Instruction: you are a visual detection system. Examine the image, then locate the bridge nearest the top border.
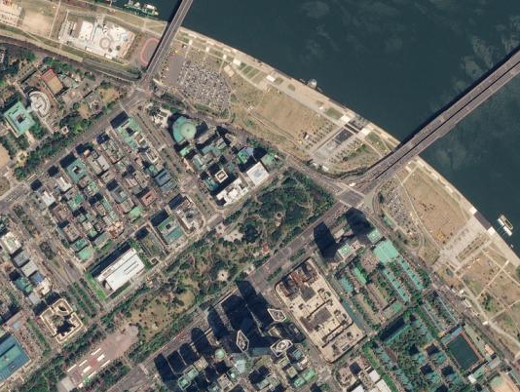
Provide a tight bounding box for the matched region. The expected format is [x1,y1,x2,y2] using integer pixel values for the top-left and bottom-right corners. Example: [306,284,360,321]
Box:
[139,0,192,88]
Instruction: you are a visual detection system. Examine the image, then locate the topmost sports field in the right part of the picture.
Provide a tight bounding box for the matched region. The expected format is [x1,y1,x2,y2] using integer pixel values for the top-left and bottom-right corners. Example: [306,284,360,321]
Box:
[448,331,483,370]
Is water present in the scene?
Yes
